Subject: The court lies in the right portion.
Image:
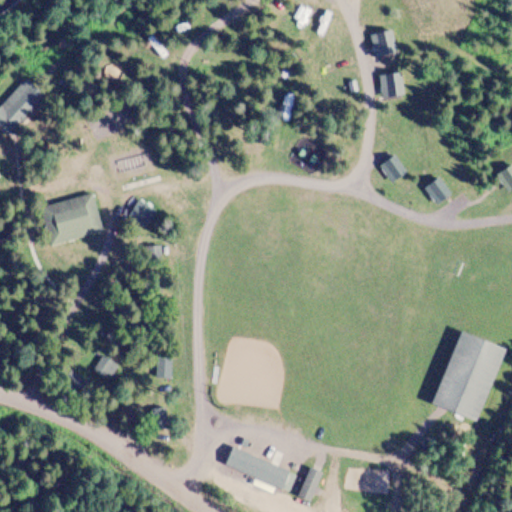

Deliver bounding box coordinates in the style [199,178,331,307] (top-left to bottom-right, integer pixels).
[344,468,388,493]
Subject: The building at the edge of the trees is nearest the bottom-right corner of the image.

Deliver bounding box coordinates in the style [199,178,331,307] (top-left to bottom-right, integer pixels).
[434,332,506,421]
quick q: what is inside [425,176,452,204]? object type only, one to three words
building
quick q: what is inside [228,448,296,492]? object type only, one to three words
building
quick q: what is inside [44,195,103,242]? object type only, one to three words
house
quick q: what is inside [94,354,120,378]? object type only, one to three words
house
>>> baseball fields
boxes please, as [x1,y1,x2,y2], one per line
[216,336,286,409]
